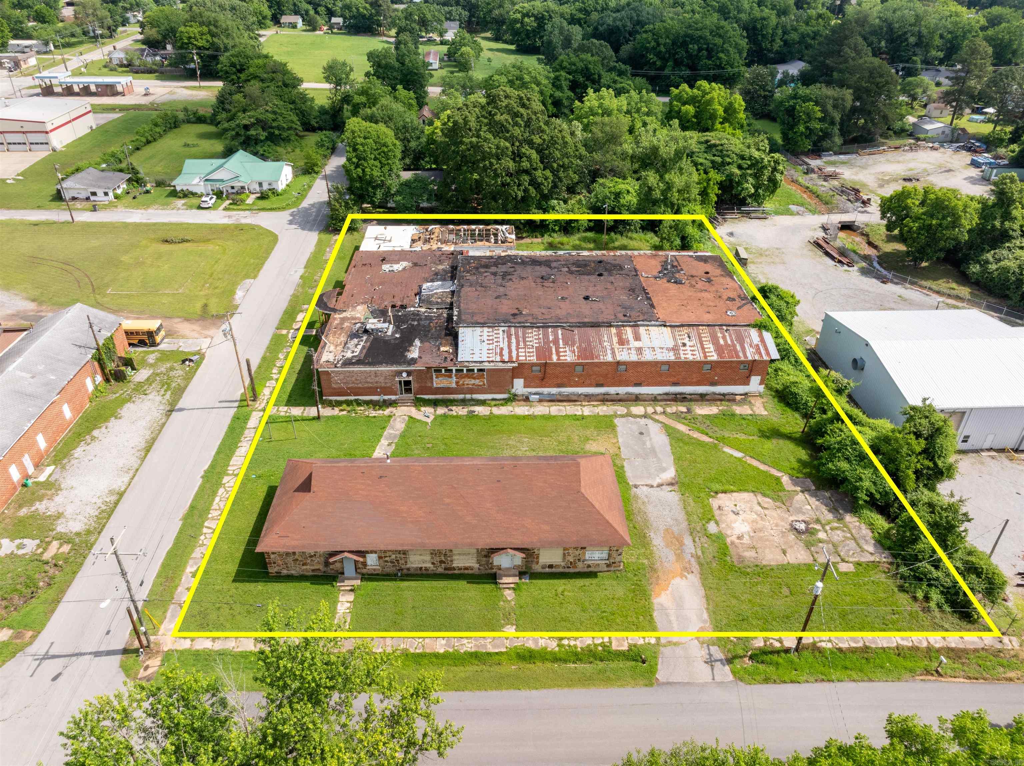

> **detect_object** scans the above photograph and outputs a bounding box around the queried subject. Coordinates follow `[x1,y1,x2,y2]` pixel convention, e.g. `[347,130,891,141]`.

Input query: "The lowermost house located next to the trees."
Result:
[255,448,633,597]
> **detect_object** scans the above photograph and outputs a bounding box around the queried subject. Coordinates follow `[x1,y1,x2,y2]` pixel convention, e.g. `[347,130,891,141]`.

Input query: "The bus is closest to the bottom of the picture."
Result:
[122,317,166,346]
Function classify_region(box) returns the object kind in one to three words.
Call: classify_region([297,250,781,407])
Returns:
building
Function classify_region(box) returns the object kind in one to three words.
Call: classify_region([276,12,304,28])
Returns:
house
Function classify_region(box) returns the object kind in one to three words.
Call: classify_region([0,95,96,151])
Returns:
building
